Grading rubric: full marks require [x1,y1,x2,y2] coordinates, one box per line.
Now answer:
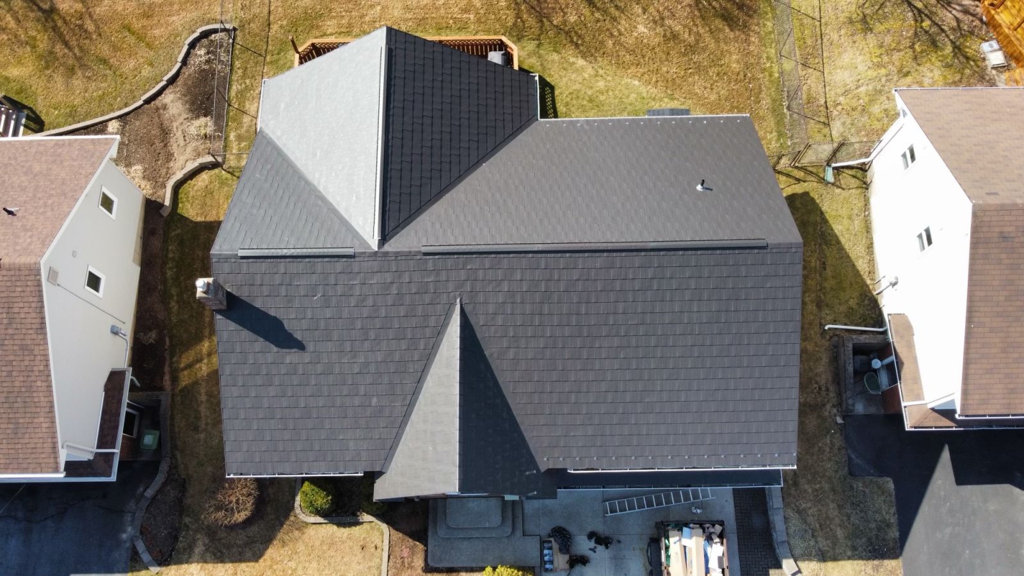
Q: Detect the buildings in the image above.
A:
[823,84,1024,431]
[0,133,165,485]
[193,25,803,505]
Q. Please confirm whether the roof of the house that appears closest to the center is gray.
Yes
